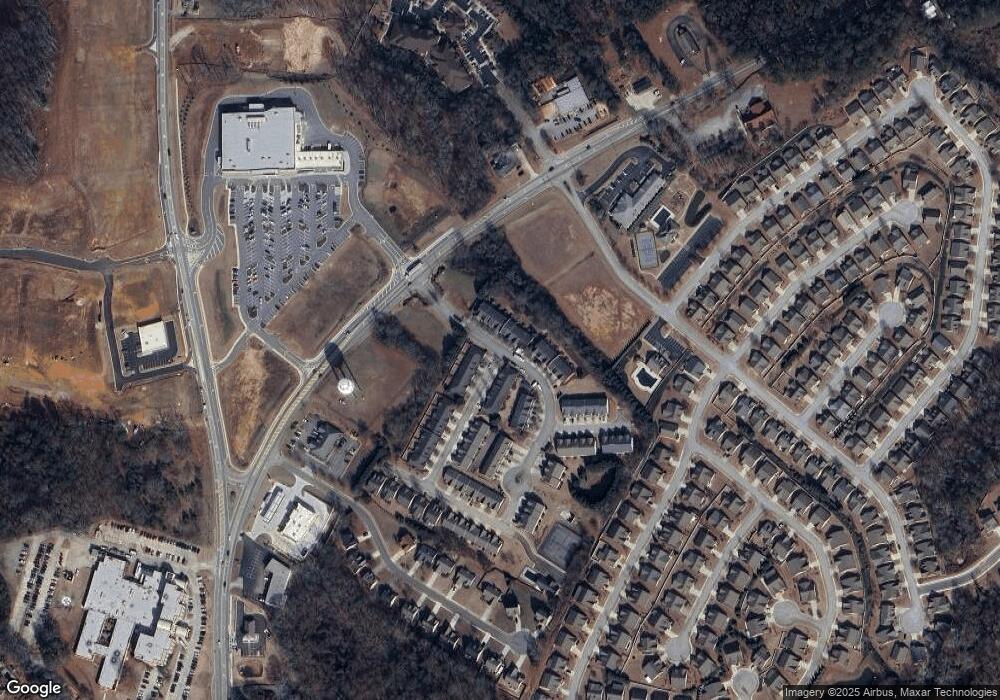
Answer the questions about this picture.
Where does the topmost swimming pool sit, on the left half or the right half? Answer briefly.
right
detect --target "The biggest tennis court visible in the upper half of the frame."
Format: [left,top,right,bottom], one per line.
[635,231,658,268]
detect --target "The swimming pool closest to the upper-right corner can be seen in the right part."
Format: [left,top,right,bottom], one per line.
[650,205,675,229]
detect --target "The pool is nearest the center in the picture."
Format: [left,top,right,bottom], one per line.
[631,361,662,393]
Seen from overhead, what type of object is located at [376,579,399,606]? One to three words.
house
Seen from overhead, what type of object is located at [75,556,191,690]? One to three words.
building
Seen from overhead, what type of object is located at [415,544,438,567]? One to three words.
house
